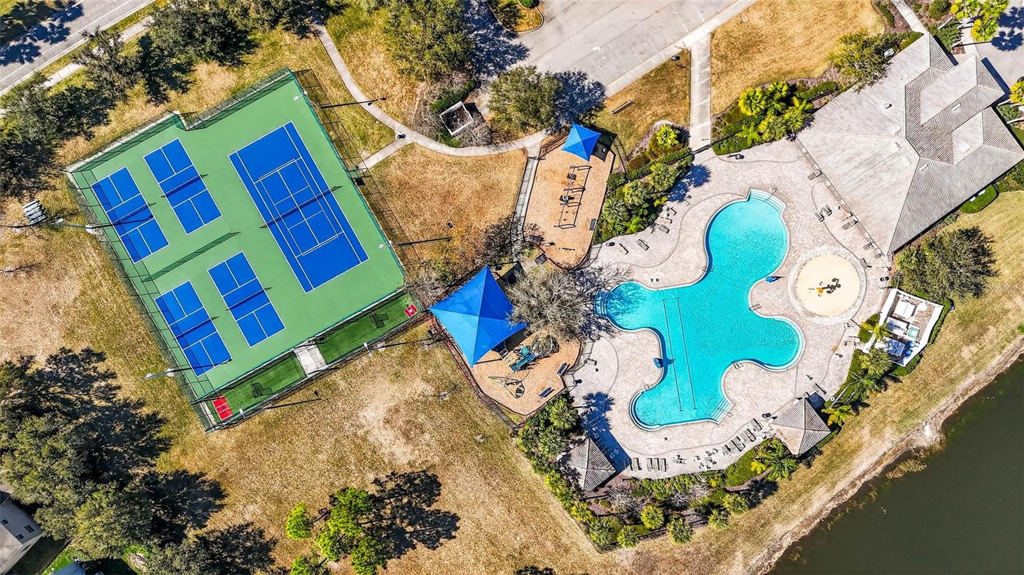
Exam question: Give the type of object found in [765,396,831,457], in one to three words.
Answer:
gazebo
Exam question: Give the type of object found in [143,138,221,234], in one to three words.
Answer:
sports court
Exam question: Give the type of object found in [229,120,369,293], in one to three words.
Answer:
tennis court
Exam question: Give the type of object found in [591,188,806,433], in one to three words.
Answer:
swimming pool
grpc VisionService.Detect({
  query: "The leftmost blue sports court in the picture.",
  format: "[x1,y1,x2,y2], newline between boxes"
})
[91,167,168,263]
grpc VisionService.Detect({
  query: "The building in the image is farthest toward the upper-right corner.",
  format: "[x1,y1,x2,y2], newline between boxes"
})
[795,31,1024,257]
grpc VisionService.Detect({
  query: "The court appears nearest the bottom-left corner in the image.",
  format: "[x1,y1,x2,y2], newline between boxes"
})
[155,280,231,377]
